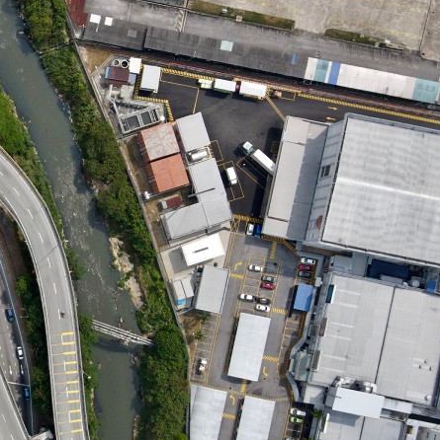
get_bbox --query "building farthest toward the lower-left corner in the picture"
[171,276,193,300]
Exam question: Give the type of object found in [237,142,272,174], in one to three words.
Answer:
truck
